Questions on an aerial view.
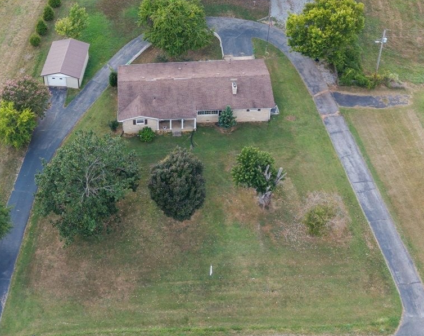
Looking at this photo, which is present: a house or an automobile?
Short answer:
house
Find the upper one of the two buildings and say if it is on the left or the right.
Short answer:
left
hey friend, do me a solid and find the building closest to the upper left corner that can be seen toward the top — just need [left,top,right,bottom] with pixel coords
[42,37,90,88]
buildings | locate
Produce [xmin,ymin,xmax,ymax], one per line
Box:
[42,37,90,88]
[117,60,281,134]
